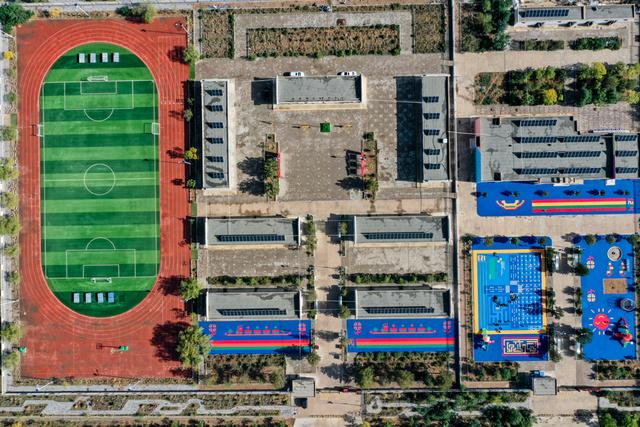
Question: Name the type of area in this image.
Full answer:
This image shows a sports ground.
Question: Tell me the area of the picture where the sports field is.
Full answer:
The sports field is located in the left region of the scene.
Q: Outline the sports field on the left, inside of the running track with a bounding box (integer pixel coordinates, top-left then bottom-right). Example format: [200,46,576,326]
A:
[39,41,160,318]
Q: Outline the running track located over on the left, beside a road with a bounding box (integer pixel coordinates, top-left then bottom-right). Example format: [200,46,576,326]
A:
[16,17,192,379]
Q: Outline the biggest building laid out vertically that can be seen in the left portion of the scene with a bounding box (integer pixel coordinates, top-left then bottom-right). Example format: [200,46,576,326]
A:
[201,79,232,189]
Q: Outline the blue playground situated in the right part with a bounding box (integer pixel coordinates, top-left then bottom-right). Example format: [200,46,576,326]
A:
[581,234,637,361]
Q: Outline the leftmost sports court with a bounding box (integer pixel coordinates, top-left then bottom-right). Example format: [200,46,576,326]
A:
[472,236,552,361]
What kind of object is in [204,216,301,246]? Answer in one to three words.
building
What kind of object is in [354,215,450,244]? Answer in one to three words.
building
